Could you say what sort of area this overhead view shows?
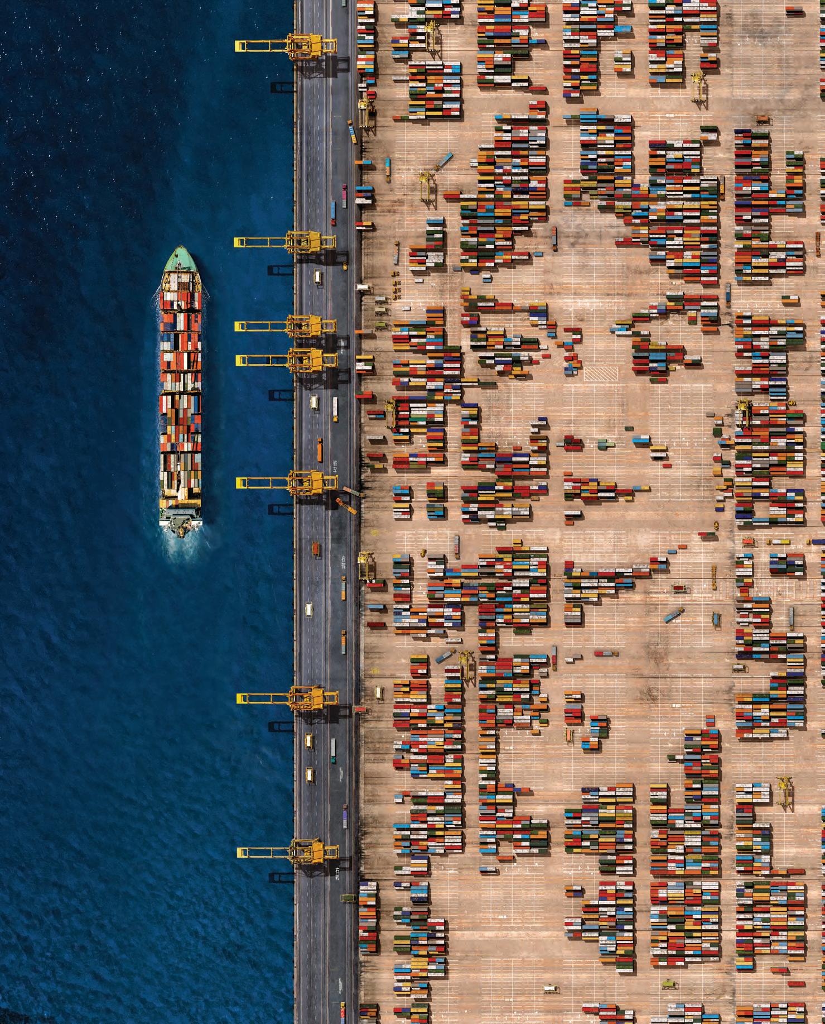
port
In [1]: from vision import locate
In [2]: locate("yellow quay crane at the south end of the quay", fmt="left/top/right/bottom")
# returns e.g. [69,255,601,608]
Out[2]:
[236,837,338,865]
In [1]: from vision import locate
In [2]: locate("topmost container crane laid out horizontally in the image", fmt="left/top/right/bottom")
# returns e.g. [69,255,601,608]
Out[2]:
[234,34,337,63]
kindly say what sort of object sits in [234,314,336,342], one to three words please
container crane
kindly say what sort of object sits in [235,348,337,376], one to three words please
container crane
